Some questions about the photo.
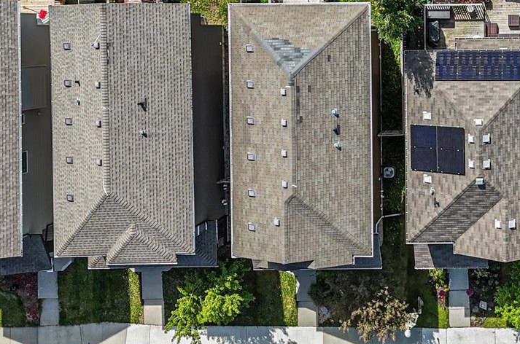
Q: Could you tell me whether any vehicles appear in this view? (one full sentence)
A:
No, the picture doesn't show any vehicle.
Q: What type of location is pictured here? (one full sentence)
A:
It's a residential area.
